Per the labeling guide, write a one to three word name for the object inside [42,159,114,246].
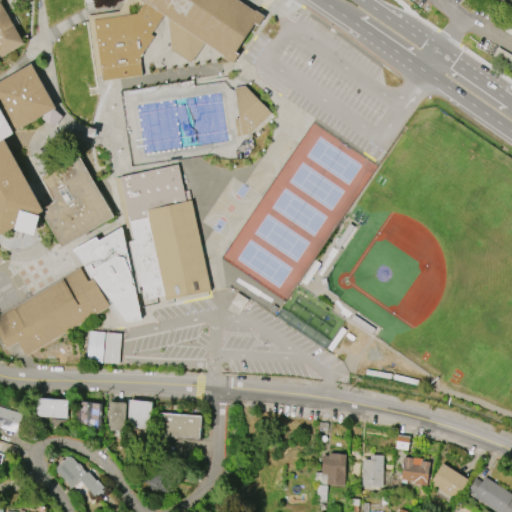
building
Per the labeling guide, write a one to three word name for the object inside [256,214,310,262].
tennis court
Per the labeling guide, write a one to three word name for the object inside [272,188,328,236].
tennis court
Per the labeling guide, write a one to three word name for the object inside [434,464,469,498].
house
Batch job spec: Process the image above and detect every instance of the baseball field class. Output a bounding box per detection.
[328,106,512,411]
